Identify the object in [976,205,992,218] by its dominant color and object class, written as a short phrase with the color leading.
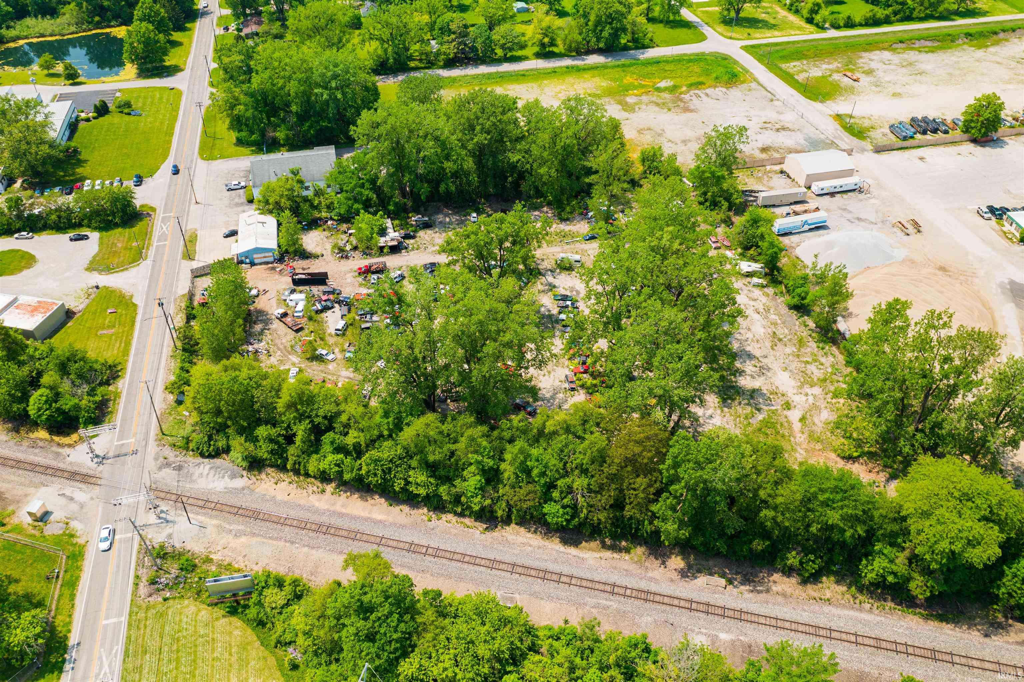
white vehicle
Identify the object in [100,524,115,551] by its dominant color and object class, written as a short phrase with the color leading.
white car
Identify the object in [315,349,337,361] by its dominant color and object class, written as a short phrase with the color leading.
white vehicle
